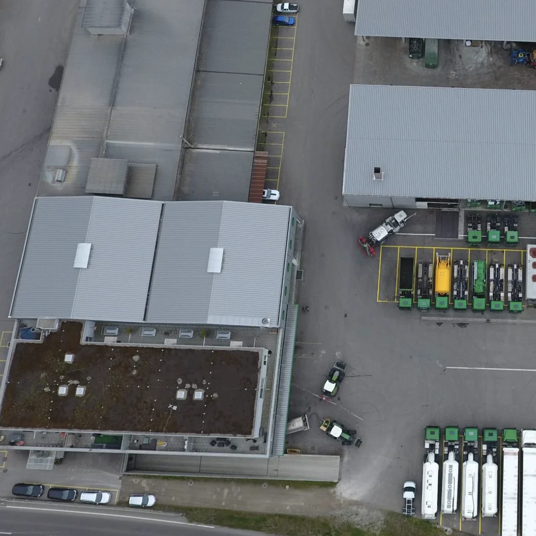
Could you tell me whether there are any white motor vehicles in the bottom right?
Yes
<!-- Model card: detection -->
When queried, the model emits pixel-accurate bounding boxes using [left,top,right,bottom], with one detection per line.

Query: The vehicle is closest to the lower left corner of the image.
[10,482,47,499]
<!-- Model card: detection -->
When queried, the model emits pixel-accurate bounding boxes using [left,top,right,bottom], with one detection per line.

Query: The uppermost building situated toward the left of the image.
[35,0,280,204]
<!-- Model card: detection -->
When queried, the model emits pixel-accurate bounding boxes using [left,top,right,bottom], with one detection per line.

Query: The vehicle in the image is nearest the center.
[263,188,281,200]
